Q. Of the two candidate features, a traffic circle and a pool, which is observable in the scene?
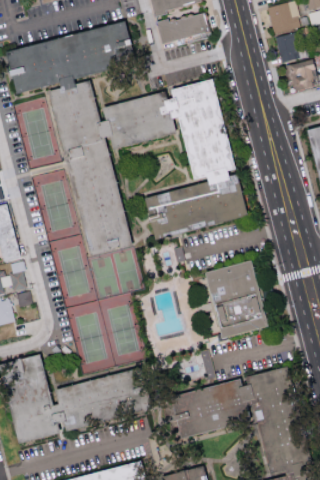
pool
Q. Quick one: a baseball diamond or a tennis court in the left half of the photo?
tennis court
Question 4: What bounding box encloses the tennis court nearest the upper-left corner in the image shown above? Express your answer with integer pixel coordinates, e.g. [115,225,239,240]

[16,98,63,168]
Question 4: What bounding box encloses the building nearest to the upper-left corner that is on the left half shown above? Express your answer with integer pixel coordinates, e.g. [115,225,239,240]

[8,21,136,94]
